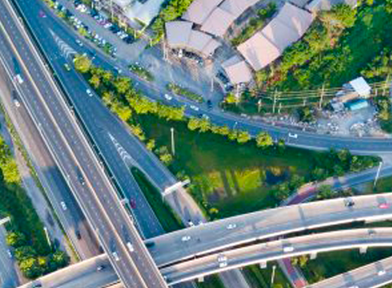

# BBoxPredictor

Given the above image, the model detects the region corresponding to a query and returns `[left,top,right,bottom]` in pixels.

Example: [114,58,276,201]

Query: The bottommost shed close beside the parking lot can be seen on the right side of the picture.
[221,58,254,90]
